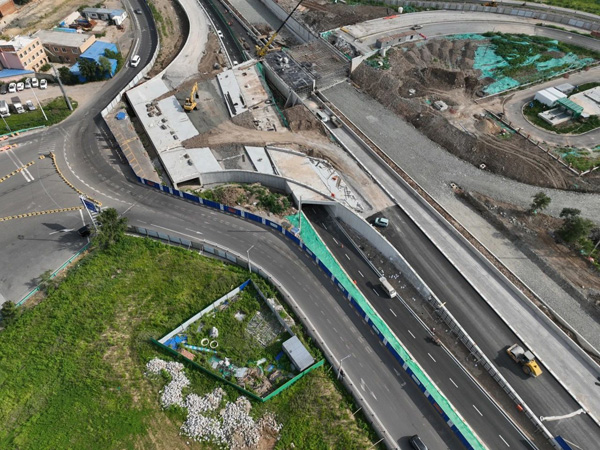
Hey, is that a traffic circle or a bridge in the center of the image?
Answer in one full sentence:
Looking in the center of the image, you will find a bridge.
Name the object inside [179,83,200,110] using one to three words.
work vehicle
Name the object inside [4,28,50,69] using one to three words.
building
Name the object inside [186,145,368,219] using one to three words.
bridge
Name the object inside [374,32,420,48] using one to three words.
shed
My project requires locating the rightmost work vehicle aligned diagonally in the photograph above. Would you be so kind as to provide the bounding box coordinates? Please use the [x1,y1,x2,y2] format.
[508,340,544,376]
